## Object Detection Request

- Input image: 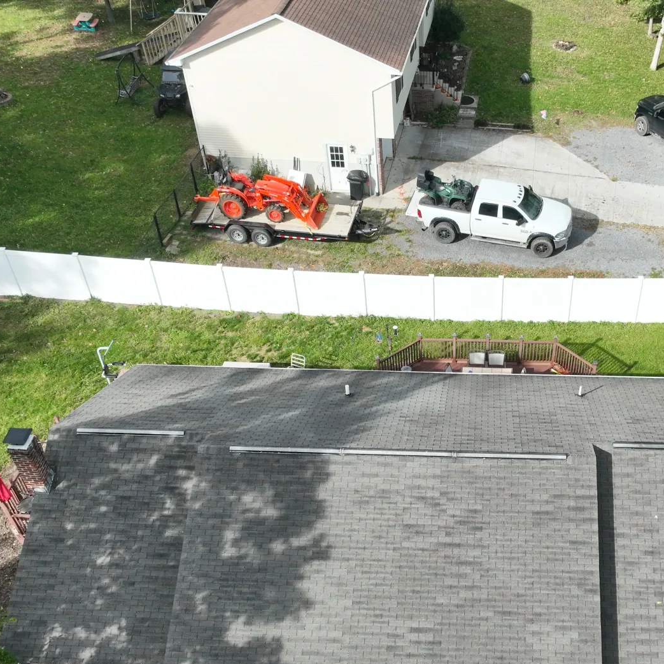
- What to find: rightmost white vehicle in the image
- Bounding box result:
[410,183,579,258]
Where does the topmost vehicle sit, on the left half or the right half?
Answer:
left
